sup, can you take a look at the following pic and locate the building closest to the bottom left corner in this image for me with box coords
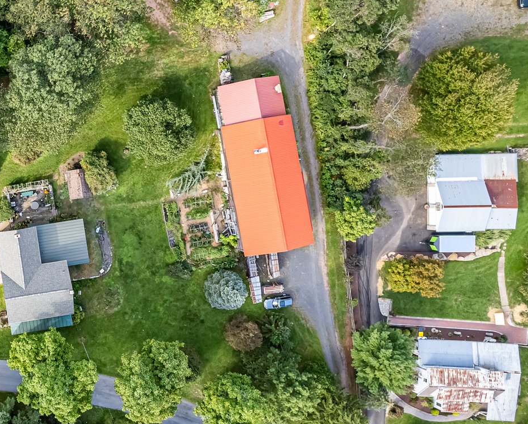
[0,219,90,334]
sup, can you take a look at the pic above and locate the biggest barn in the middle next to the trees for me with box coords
[217,114,313,256]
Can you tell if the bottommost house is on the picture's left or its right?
right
